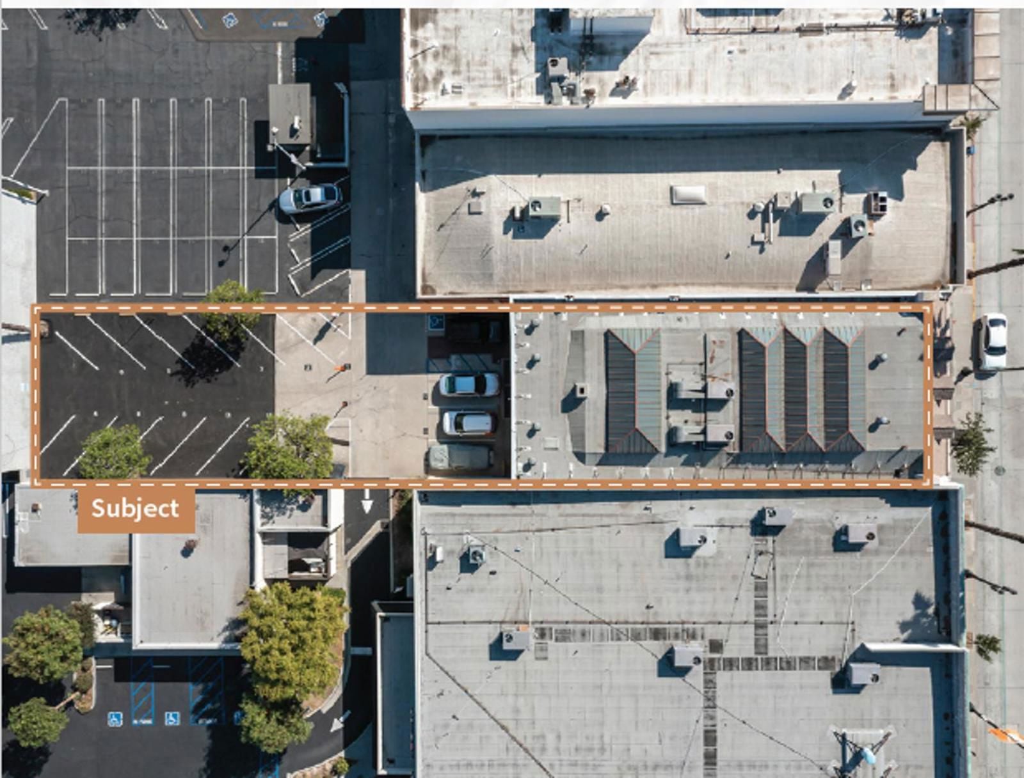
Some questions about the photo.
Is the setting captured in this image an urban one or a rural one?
urban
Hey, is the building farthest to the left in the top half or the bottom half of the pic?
bottom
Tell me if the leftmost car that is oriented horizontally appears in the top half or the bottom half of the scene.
top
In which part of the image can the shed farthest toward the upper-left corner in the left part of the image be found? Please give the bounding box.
[268,83,322,155]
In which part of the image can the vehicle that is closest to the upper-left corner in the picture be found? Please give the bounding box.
[280,185,343,216]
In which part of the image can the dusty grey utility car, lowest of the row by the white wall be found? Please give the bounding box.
[429,444,492,473]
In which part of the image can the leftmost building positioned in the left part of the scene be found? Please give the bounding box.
[13,482,148,567]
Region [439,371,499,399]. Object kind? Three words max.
car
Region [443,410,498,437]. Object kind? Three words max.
car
